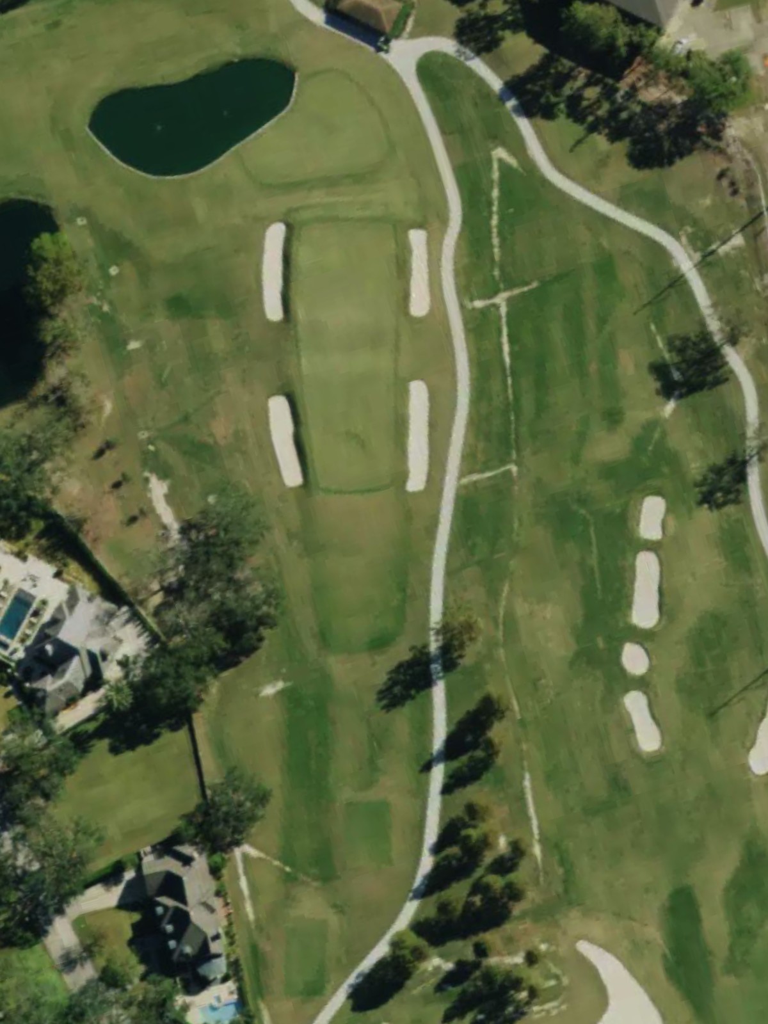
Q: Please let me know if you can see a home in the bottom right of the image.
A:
No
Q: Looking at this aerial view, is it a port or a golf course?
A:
golf course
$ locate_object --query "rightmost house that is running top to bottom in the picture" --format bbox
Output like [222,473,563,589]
[143,843,225,989]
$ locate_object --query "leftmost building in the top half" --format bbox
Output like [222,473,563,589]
[336,0,402,32]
